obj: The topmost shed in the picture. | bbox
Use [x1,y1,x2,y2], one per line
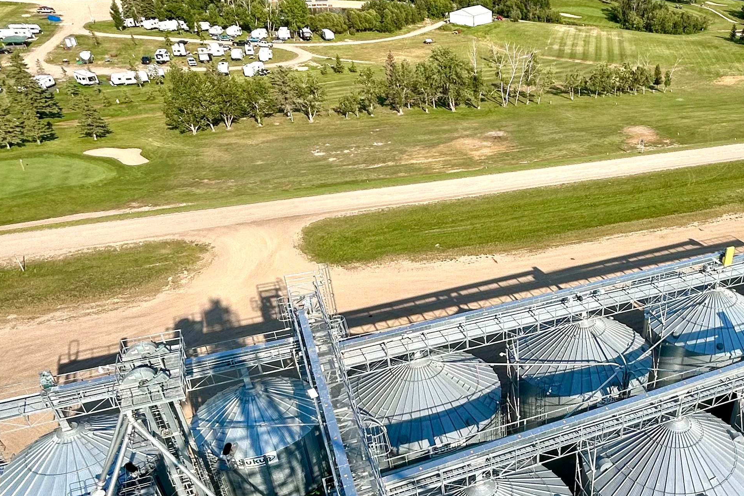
[451,2,498,26]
